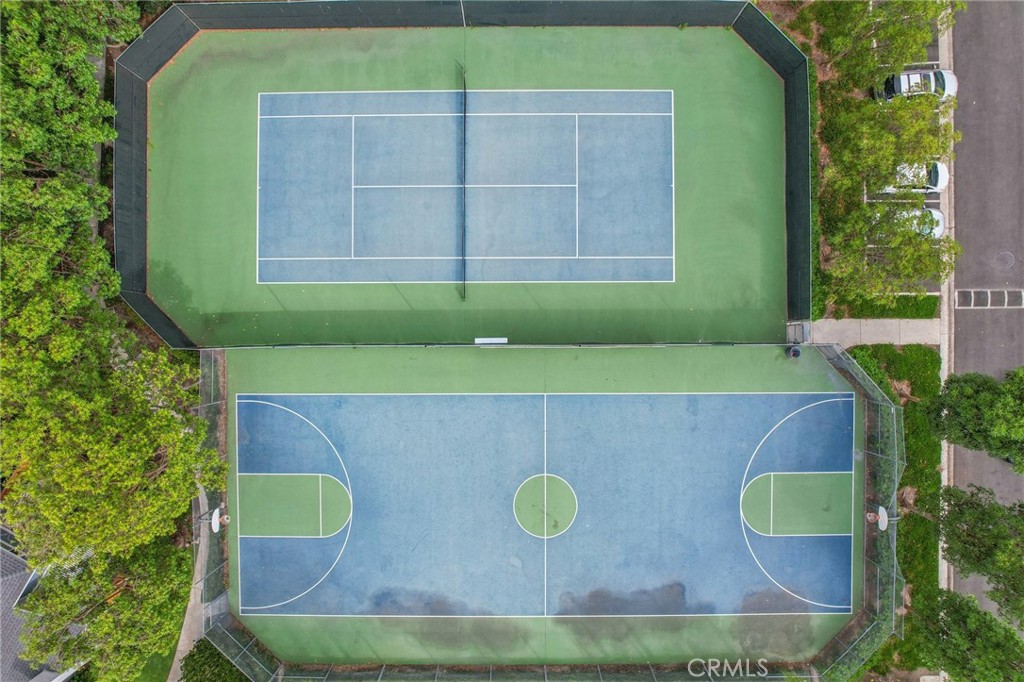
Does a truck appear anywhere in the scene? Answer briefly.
No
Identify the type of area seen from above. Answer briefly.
sports ground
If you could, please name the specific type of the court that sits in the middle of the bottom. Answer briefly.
basketball court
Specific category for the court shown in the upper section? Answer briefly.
tennis court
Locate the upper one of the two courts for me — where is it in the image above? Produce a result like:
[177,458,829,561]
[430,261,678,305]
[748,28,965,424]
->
[147,26,787,347]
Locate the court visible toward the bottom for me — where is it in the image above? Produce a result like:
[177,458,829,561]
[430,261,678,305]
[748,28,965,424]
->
[228,348,864,665]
